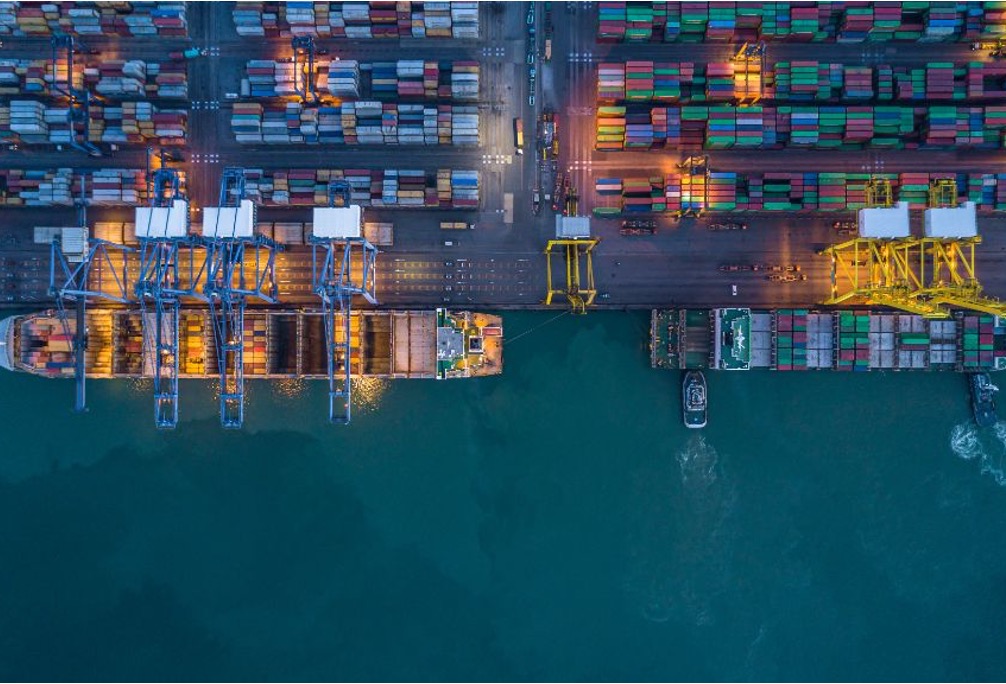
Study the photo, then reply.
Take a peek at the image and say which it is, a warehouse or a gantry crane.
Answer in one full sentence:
There is a gantry crane in the scene.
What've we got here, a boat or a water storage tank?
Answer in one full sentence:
There is a boat in the scene.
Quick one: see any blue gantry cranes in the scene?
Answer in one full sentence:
Yes, you can see a blue gantry crane in this photo.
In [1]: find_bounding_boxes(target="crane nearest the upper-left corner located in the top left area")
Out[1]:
[55,39,98,104]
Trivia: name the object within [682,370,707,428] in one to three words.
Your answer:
boat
